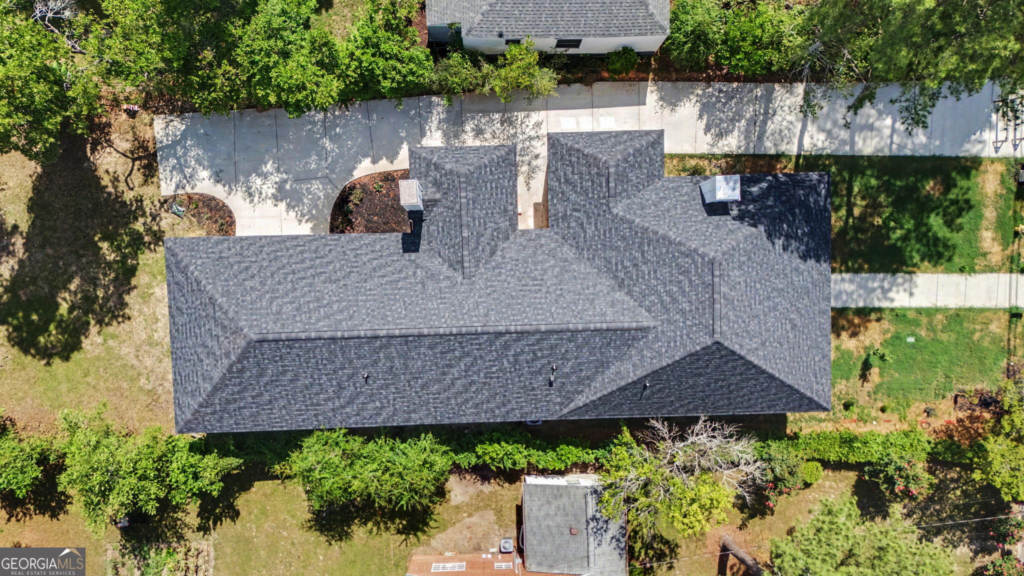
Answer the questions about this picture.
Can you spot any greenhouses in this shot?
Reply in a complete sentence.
No, there's no greenhouse here.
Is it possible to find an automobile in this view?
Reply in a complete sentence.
No, the frame has no automobile in it.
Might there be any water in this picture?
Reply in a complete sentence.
No, no water is visible.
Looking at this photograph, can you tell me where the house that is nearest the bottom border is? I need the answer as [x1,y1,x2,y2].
[399,475,639,576]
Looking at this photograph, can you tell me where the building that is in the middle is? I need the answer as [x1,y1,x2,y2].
[163,128,831,435]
